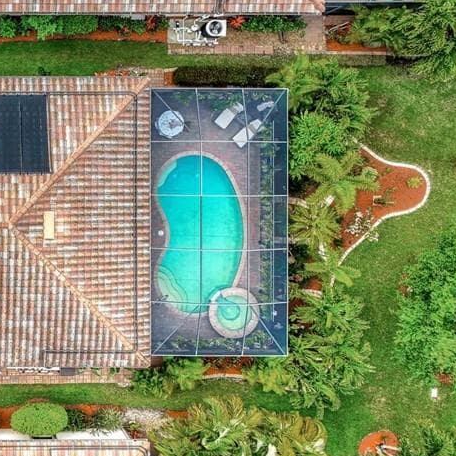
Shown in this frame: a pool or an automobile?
pool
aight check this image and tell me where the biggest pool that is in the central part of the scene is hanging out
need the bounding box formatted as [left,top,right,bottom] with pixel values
[152,149,250,319]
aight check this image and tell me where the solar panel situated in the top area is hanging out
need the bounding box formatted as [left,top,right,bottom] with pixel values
[0,92,53,175]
